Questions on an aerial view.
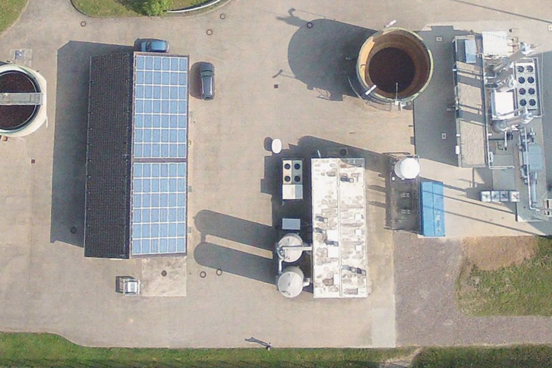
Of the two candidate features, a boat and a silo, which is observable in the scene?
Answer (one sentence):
I can see a silo in this picture.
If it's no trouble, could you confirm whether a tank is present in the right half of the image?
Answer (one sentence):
Yes, I can see a tank in the right half of the image.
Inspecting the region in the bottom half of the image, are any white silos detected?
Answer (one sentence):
Yes, you'll find a white silo in the bottom half of the image.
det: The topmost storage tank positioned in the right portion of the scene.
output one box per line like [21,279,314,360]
[352,26,435,114]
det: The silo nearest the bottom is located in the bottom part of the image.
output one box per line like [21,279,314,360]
[277,264,311,296]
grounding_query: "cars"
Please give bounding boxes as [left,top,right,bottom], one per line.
[197,63,215,101]
[141,39,171,54]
